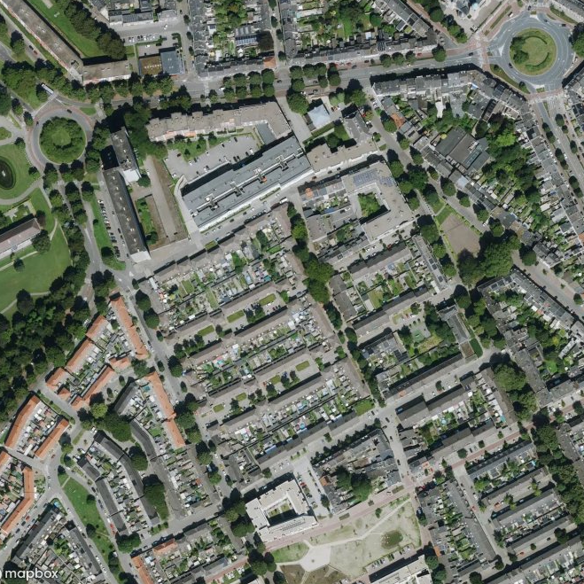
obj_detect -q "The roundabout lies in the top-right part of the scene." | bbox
[496,14,572,90]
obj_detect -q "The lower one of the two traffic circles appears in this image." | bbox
[25,102,101,177]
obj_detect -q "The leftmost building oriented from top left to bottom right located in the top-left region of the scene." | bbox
[0,0,83,73]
